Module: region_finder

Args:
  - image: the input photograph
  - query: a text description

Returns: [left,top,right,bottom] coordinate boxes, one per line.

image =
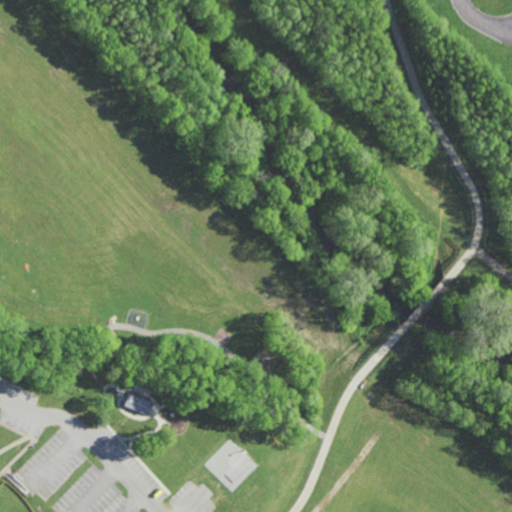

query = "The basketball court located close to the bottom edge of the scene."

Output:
[206,440,258,492]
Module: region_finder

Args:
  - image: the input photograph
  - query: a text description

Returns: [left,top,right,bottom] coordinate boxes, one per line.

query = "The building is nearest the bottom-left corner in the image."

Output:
[126,393,154,417]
